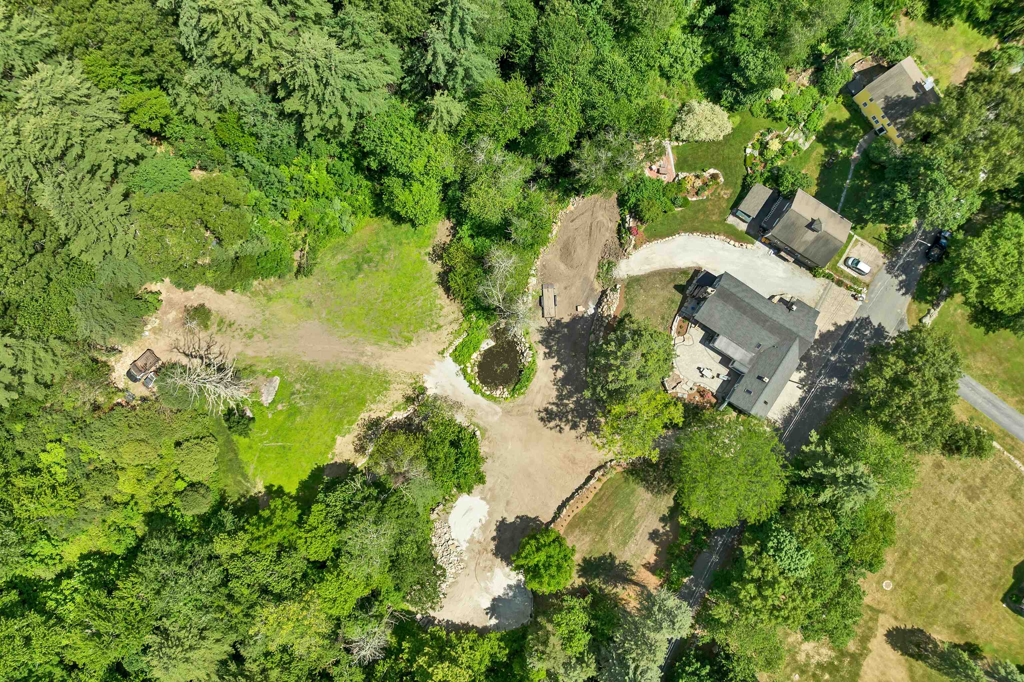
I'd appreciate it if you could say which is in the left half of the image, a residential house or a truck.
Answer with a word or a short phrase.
truck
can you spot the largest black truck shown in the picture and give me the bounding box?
[923,227,951,266]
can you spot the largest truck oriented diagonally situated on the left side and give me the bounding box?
[124,348,158,387]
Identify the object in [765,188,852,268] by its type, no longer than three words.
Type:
barn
